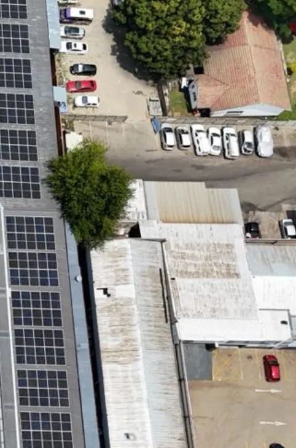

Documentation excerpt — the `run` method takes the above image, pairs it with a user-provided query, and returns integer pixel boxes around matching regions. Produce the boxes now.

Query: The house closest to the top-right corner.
[196,10,289,115]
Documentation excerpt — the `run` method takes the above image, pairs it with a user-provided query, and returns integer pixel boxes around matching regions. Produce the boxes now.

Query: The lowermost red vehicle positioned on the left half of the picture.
[67,78,99,92]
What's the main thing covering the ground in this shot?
buildings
